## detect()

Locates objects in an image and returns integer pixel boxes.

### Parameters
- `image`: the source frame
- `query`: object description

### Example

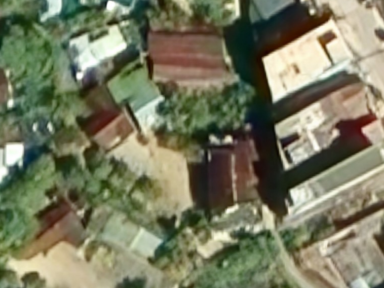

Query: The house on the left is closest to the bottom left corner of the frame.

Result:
[23,198,85,259]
